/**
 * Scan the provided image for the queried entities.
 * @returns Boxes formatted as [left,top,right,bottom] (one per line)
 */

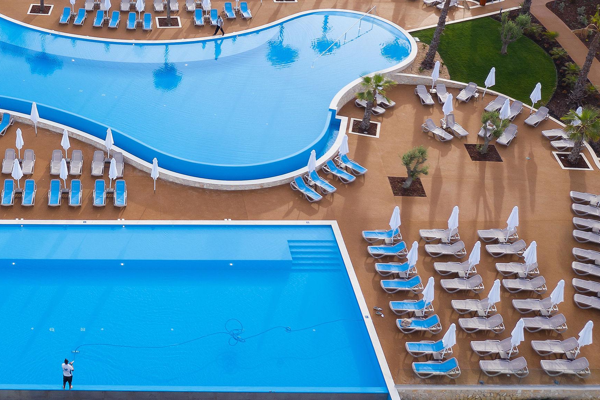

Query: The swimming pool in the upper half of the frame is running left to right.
[0,23,407,169]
